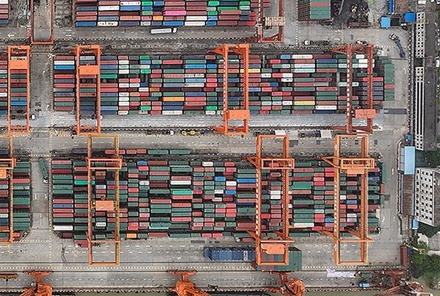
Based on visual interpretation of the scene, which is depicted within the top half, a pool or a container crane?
container crane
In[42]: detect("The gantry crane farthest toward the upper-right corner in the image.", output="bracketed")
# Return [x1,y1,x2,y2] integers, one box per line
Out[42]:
[326,42,376,134]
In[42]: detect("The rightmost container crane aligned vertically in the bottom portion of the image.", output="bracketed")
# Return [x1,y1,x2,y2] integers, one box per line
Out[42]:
[314,135,374,265]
